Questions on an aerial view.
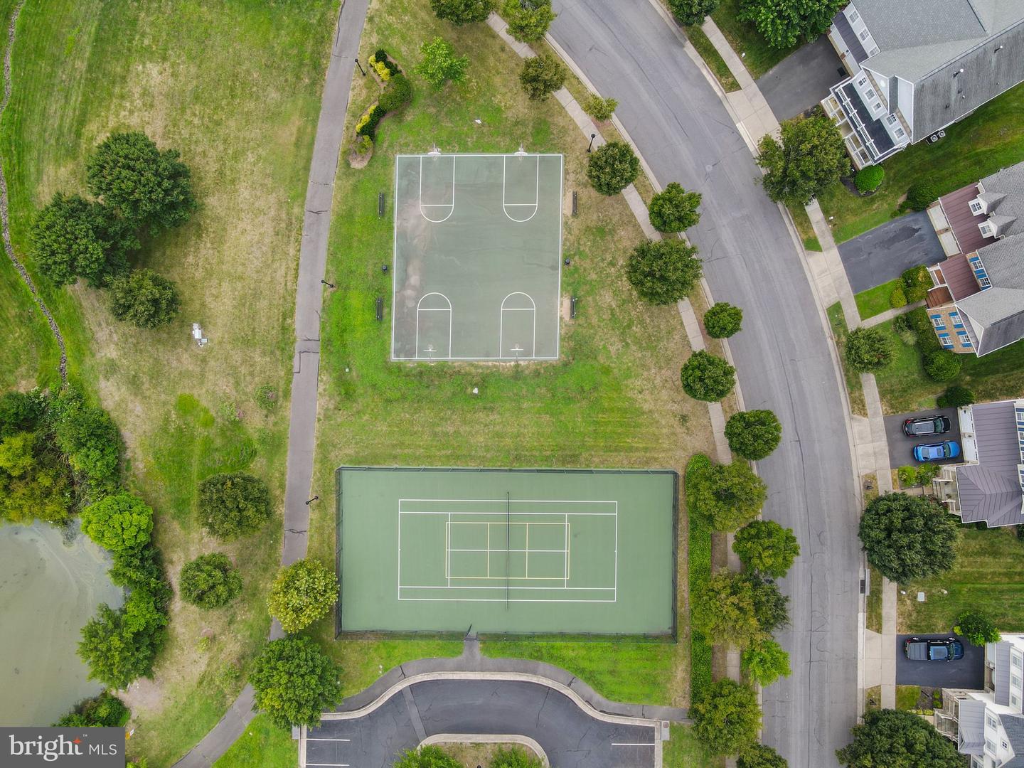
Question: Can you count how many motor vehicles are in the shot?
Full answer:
The number of motor vehicles here is 3.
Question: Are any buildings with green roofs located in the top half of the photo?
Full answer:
No, no building with a green roof appears in the top half of the photo.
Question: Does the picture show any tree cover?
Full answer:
Yes, there is tree cover in the image.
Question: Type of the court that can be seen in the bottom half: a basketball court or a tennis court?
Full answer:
In the photo, the court that can be seen in the bottom half shows up as a tennis court.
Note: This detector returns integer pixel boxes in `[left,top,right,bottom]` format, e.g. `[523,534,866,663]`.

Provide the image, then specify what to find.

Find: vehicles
[911,442,957,464]
[902,638,960,663]
[900,415,949,438]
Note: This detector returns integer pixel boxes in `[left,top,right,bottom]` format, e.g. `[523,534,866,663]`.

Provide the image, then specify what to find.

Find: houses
[934,634,1024,768]
[817,0,1024,171]
[932,396,1024,529]
[922,161,1024,359]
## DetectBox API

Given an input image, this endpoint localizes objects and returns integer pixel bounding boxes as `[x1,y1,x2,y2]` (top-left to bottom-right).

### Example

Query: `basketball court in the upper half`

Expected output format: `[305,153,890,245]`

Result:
[390,153,564,362]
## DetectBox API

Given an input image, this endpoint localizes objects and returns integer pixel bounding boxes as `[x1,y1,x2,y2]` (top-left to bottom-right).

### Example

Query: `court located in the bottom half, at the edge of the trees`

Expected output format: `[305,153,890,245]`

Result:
[340,466,675,634]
